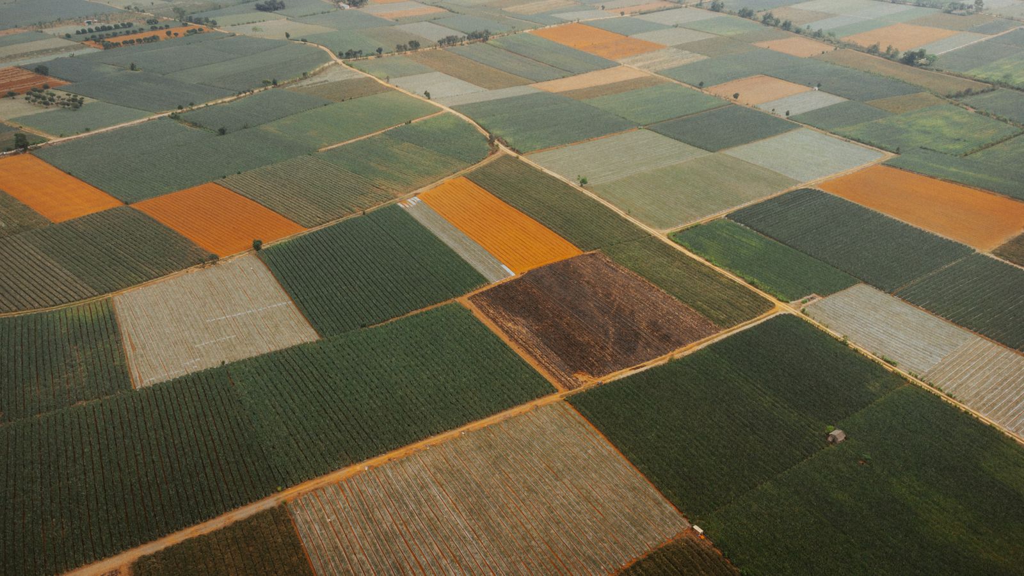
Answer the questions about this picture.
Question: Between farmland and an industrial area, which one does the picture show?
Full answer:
What you see here is farmland.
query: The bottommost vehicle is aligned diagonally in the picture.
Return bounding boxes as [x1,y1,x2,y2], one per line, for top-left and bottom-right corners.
[691,521,708,542]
